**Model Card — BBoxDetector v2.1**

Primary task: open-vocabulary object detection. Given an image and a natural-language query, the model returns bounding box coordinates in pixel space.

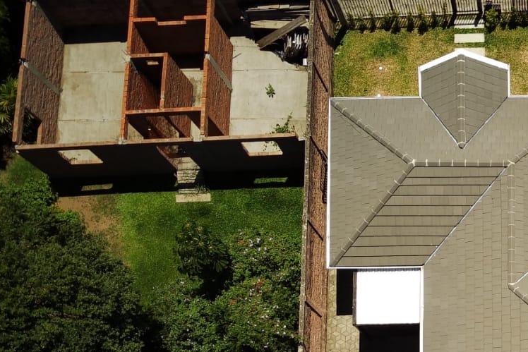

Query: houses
[8,0,310,194]
[321,44,528,352]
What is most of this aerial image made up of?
buildings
